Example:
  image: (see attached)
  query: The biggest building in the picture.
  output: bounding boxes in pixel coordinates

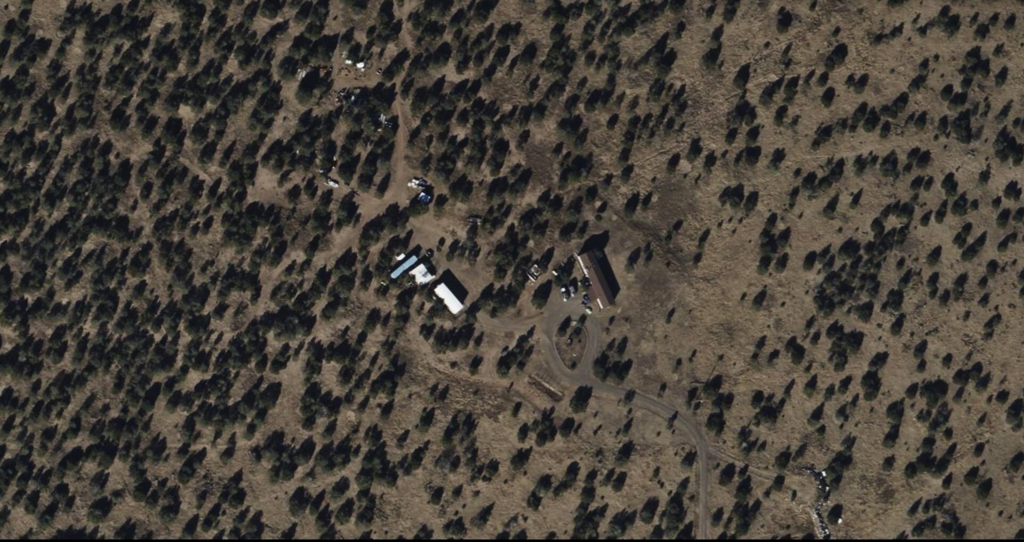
[575,249,617,310]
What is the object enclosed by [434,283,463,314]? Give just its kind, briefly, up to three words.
shed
